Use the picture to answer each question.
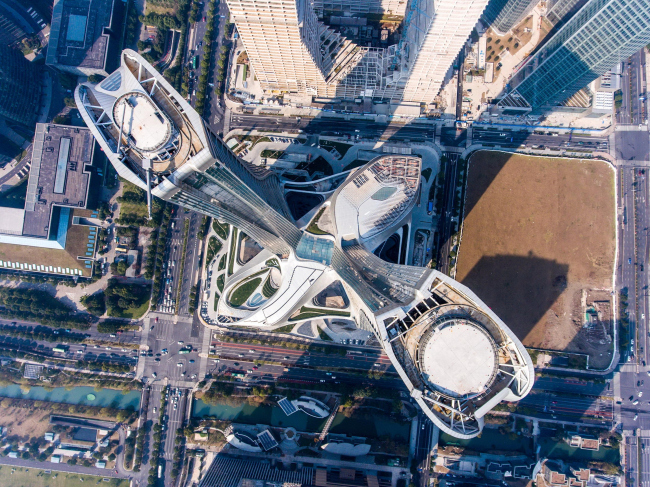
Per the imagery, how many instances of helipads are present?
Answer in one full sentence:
I count 2 helipads.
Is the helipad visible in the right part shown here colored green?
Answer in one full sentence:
No, from above the helipad visible in the right part looks white.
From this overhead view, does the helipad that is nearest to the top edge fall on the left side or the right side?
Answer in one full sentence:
The helipad that is nearest to the top edge is on the left side of the image.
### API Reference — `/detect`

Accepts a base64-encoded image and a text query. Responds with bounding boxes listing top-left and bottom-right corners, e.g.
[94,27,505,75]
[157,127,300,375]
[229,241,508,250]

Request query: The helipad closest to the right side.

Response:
[415,317,498,399]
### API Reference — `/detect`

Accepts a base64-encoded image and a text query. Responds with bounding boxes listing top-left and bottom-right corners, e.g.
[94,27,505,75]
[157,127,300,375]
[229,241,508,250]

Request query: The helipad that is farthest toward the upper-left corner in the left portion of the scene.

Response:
[109,88,182,157]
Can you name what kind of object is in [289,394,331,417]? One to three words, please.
building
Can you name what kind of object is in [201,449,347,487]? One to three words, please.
building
